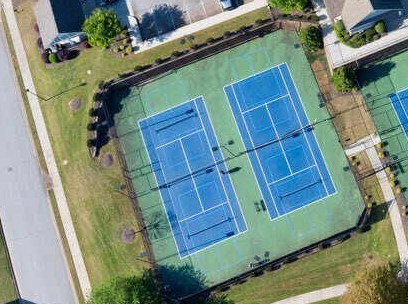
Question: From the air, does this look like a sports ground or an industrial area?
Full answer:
This looks like a sports ground.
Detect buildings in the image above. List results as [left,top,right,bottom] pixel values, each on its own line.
[324,0,404,35]
[34,0,90,48]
